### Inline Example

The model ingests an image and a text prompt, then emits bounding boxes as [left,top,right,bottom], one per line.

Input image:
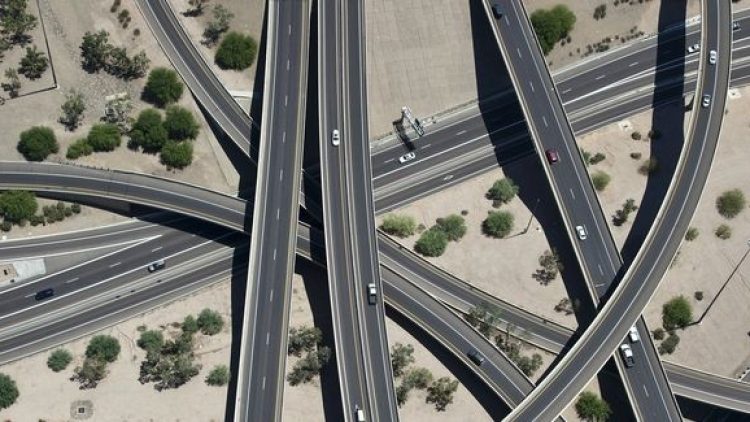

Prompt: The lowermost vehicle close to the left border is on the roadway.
[34,288,54,301]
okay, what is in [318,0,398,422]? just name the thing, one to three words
overpass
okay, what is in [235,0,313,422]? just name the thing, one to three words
overpass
